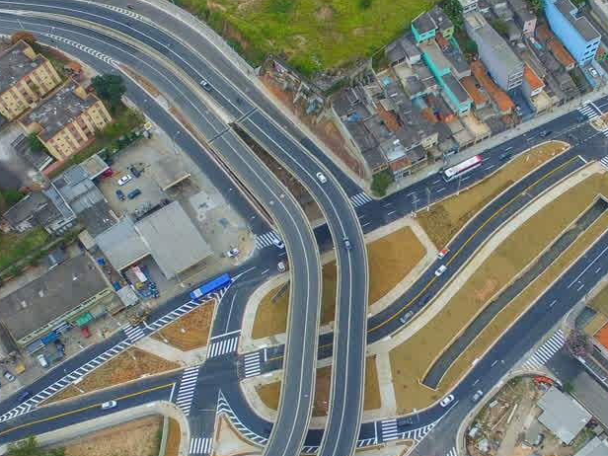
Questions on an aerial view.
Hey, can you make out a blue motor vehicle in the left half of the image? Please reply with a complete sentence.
Yes, in the left half of the image there is a blue motor vehicle.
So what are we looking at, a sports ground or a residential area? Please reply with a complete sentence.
This looks like a residential area.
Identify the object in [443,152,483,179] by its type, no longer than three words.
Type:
bus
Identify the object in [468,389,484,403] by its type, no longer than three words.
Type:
vehicle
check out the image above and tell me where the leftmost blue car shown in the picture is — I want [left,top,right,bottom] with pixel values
[14,390,32,404]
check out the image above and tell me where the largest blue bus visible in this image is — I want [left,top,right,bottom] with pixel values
[187,271,232,300]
